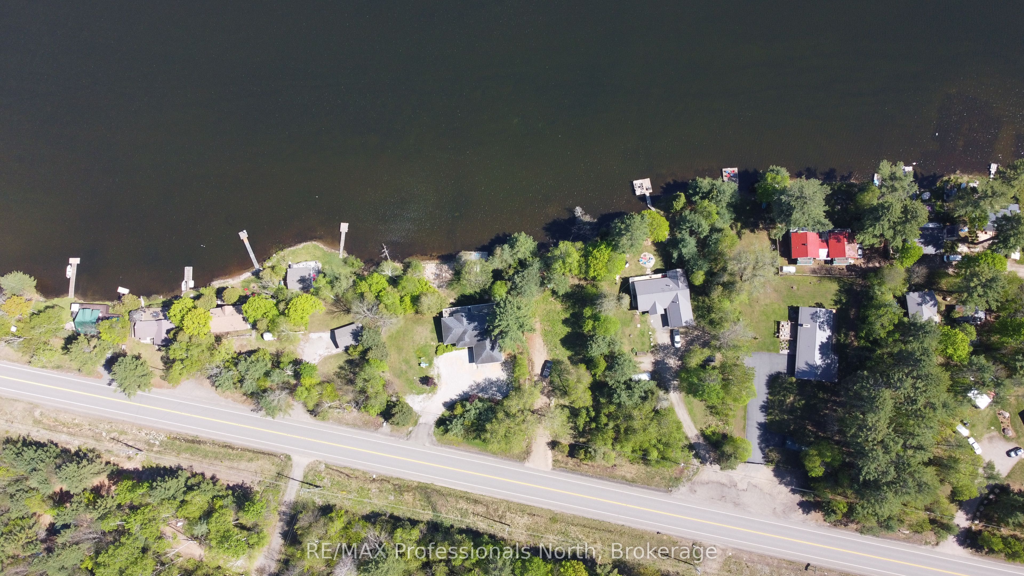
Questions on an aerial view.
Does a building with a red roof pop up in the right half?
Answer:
Yes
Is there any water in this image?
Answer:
Yes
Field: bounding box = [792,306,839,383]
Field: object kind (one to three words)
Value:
house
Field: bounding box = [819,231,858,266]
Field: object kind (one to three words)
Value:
house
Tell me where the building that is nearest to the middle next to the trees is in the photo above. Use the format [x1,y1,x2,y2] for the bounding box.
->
[441,307,503,365]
